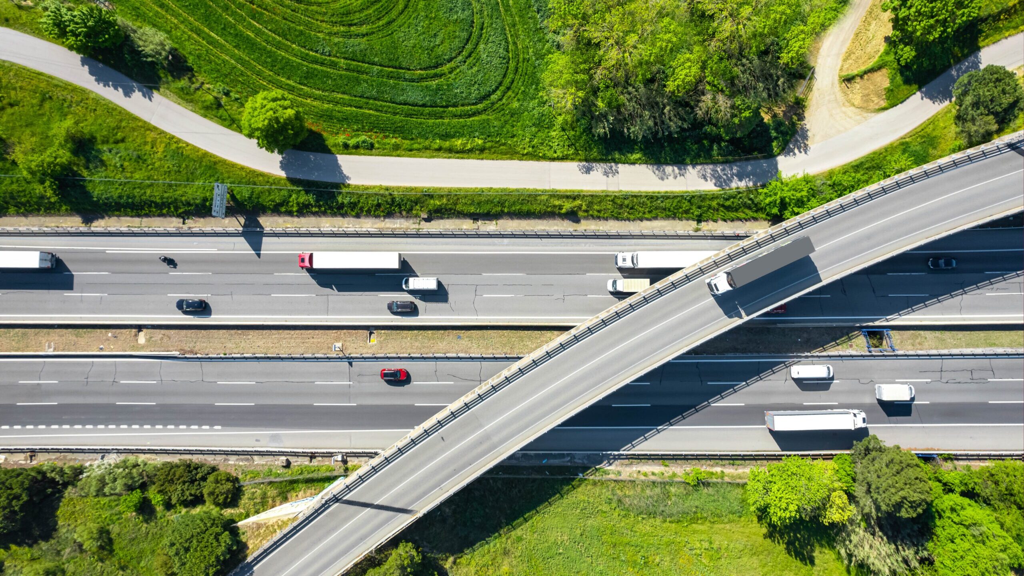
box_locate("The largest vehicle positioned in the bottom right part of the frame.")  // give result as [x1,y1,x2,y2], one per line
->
[766,411,868,433]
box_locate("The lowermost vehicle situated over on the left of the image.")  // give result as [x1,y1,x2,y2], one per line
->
[381,368,408,380]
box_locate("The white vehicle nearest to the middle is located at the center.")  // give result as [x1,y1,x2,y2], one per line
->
[404,276,439,291]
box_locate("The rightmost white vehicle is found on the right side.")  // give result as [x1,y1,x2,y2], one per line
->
[872,384,911,401]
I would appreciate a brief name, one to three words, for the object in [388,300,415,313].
vehicle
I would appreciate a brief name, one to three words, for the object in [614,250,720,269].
vehicle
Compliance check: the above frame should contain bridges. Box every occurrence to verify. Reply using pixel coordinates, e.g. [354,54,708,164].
[232,131,1024,576]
